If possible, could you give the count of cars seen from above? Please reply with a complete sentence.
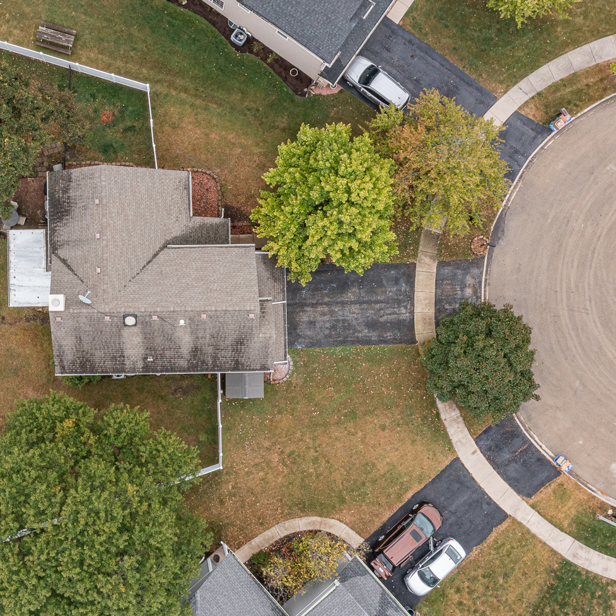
Altogether the scene contains 3 cars.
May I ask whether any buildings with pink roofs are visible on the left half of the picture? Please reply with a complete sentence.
No, looking on the left half of the picture, there is no building with a pink roof.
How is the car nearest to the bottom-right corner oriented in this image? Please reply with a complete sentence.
In this picture, the car nearest to the bottom-right corner is oriented diagonally.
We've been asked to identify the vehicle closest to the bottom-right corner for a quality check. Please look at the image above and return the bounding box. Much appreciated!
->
[404,538,468,597]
